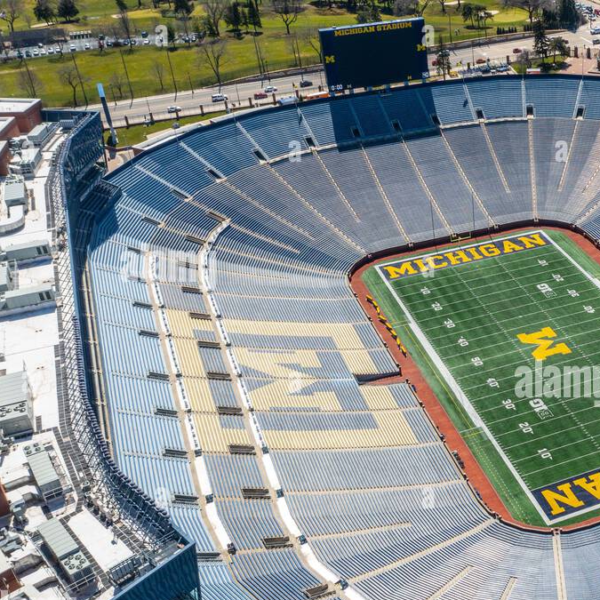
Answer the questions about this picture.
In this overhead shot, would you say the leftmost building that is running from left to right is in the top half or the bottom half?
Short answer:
top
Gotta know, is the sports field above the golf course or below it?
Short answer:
below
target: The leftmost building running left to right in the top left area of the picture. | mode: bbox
[1,19,73,50]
